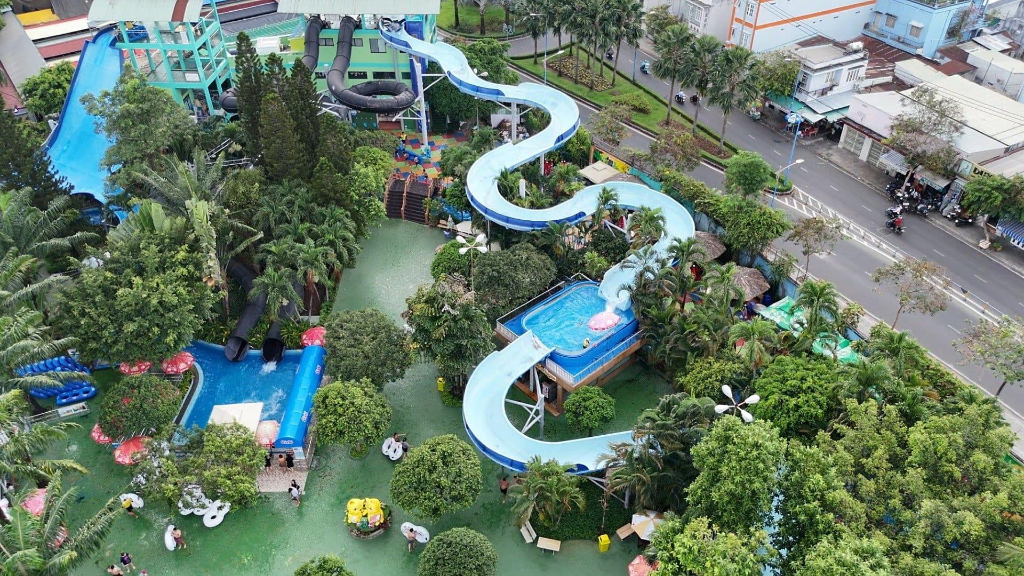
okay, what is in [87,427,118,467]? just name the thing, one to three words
umbrella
